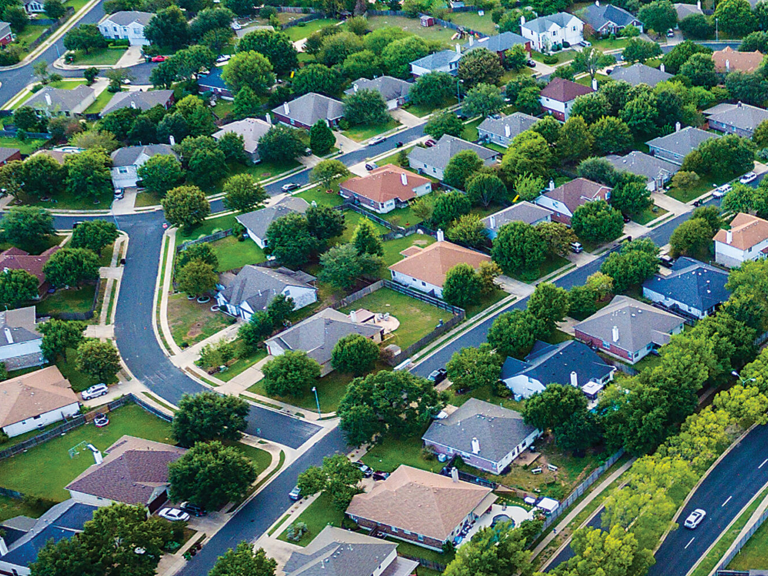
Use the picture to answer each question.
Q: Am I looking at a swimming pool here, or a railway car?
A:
swimming pool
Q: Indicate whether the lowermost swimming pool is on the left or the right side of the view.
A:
right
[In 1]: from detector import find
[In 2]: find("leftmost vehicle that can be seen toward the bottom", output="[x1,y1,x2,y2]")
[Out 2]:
[81,382,110,400]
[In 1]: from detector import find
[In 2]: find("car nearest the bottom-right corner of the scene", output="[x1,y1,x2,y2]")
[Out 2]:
[684,508,705,529]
